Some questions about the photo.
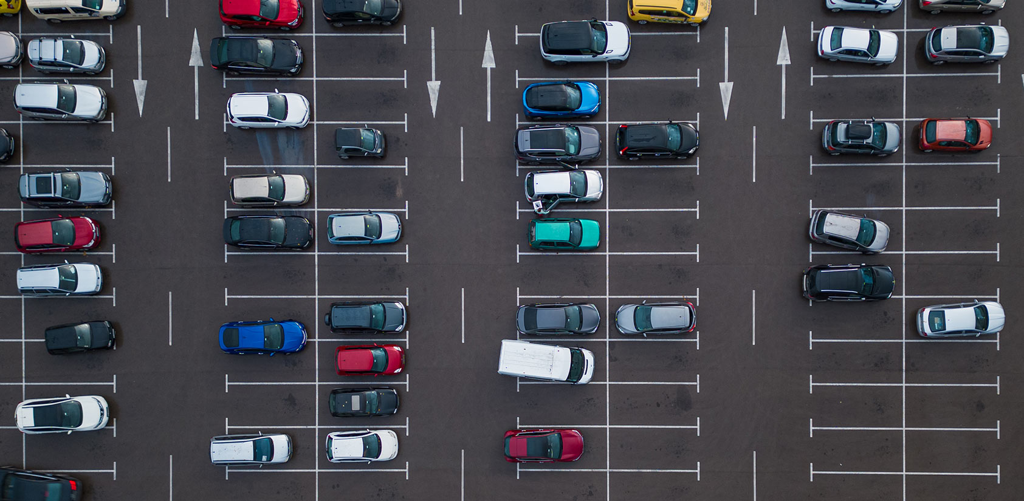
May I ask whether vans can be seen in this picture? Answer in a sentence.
Yes, there's a van here.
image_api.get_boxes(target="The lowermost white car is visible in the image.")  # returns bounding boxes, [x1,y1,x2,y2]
[325,426,399,466]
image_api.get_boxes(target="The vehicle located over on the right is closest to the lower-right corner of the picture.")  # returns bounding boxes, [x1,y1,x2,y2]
[913,298,1007,340]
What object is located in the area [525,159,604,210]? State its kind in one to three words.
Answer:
car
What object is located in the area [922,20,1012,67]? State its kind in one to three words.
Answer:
car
